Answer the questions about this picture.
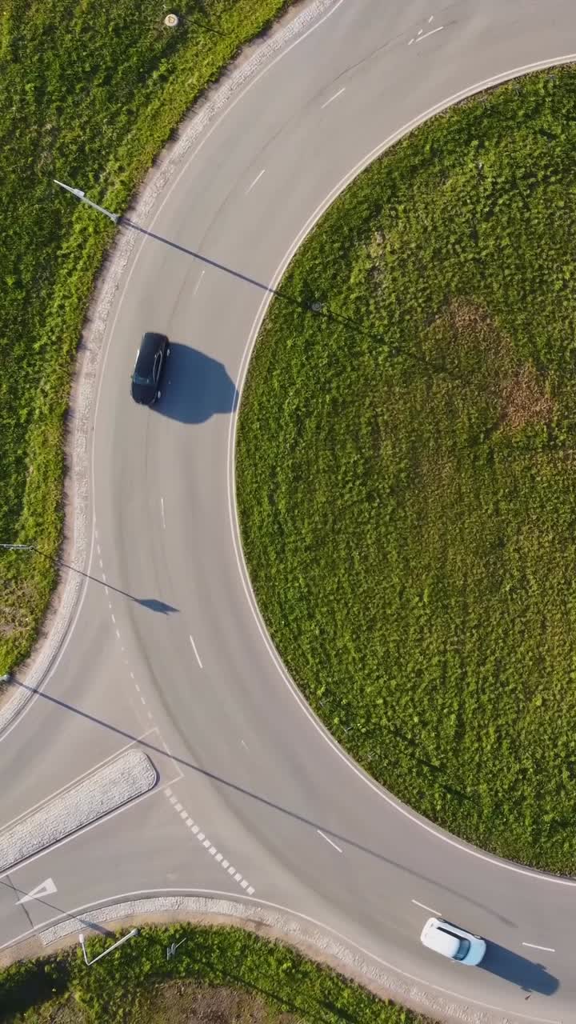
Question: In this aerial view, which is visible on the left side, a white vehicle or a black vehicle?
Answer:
black vehicle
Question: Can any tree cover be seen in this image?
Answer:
No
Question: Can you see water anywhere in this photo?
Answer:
No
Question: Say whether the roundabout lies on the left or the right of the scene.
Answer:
right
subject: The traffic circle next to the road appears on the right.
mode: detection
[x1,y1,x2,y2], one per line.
[233,61,576,879]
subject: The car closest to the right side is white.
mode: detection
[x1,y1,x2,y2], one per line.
[422,917,486,966]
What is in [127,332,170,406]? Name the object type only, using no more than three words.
car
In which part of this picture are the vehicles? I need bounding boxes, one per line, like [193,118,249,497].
[422,917,486,966]
[127,332,170,406]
